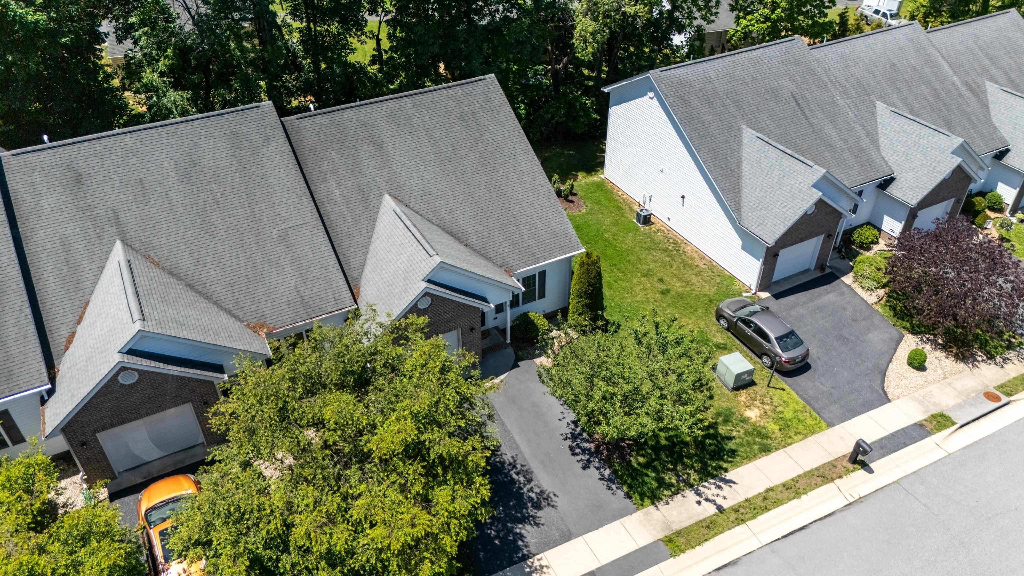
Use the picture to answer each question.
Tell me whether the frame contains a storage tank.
No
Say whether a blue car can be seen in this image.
No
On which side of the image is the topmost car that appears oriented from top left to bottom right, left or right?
right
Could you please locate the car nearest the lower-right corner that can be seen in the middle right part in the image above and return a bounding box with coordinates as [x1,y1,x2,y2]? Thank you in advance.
[718,300,817,384]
